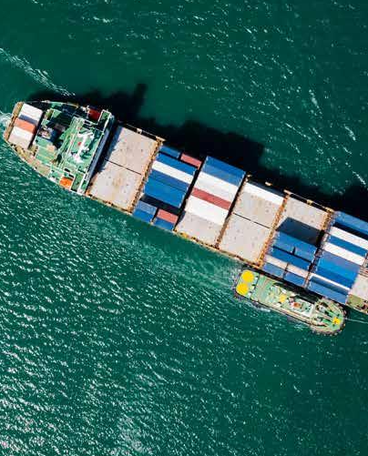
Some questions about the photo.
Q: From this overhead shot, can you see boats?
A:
Yes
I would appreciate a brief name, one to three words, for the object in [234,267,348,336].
boat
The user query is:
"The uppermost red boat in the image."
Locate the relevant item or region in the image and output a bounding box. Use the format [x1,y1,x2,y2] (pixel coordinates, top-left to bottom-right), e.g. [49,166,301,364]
[88,108,101,121]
